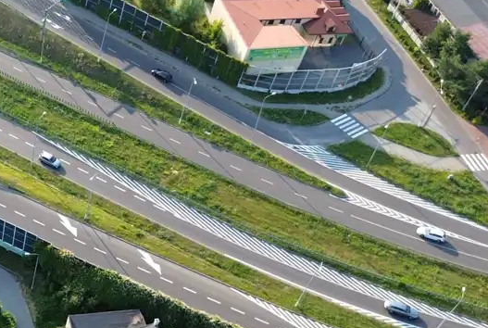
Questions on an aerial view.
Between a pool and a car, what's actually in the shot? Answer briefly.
car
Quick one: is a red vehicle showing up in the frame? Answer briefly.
No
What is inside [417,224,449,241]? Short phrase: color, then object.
white car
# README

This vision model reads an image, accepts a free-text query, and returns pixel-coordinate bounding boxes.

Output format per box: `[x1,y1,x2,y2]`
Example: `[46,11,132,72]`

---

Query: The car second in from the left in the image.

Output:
[151,68,173,81]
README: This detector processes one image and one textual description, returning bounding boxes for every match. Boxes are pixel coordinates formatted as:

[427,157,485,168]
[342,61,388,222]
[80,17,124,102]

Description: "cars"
[386,299,419,319]
[417,224,449,241]
[151,68,173,81]
[38,150,62,168]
